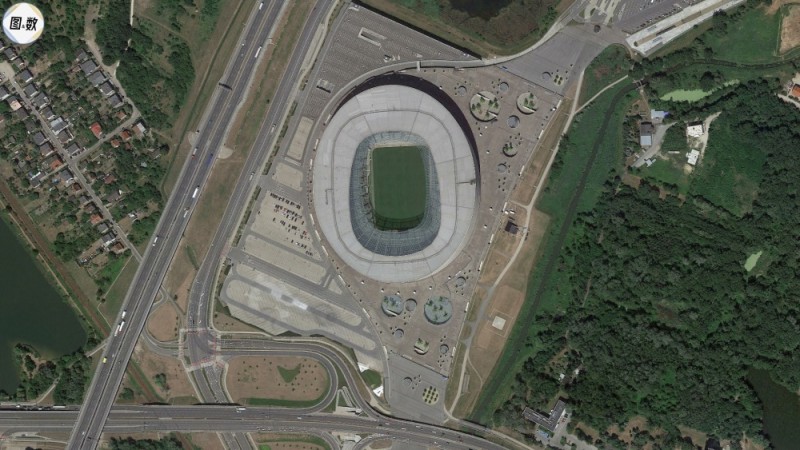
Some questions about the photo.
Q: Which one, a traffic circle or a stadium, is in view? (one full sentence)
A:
I can see a stadium in this picture.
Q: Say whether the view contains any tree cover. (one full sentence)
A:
Yes, the picture does contain tree cover.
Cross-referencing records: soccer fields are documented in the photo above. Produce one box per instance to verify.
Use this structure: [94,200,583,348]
[371,148,426,231]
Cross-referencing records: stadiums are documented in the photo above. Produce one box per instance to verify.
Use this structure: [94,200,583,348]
[312,84,480,287]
